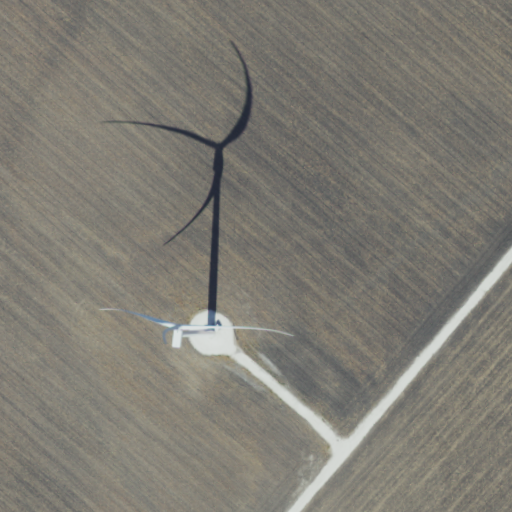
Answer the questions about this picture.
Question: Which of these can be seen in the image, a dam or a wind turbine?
wind turbine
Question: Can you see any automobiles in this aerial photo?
No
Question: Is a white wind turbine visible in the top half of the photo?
No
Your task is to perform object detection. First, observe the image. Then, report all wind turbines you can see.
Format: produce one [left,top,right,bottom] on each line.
[83,308,292,348]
